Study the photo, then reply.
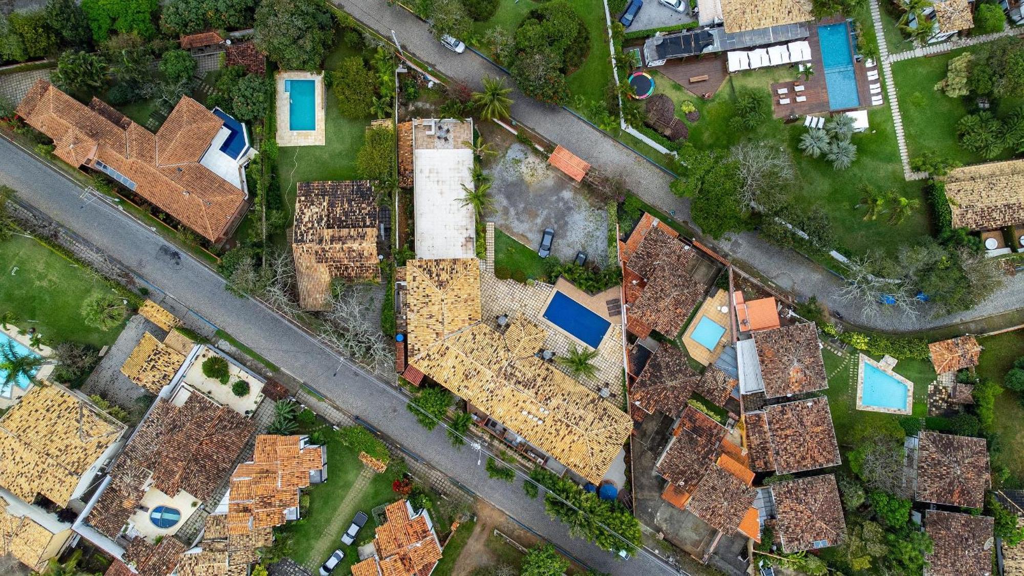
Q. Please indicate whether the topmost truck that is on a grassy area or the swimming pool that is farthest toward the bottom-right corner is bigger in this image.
the swimming pool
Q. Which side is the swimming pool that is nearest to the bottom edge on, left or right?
left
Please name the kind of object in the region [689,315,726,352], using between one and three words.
swimming pool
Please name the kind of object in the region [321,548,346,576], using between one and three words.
car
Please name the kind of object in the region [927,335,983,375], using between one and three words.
shed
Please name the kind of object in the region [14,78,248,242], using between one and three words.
house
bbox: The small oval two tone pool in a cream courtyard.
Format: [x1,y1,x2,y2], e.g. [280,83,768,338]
[150,505,183,530]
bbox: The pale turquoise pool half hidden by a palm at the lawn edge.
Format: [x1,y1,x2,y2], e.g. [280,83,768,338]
[0,328,42,401]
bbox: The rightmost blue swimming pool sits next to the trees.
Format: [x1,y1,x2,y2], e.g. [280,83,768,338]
[862,361,908,411]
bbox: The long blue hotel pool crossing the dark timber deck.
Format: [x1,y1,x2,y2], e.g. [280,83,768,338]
[818,22,861,111]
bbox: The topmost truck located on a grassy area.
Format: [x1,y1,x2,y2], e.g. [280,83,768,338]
[342,510,368,544]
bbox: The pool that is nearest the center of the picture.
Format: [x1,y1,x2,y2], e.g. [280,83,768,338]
[541,288,613,350]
